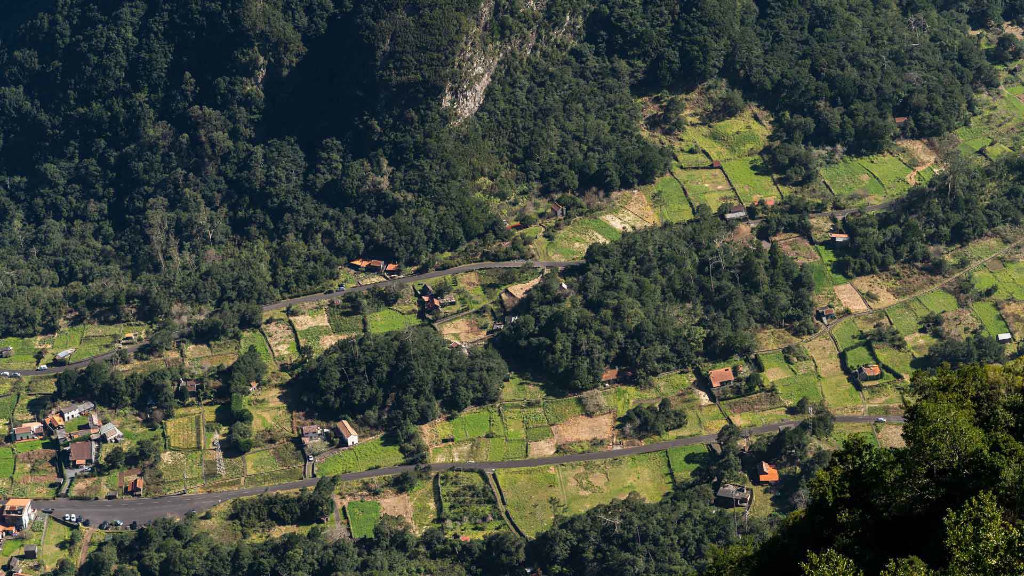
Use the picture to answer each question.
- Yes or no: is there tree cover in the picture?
Yes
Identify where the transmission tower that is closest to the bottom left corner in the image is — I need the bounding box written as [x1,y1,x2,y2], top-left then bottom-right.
[211,432,226,479]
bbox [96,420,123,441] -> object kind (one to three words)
house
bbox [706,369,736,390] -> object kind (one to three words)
house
